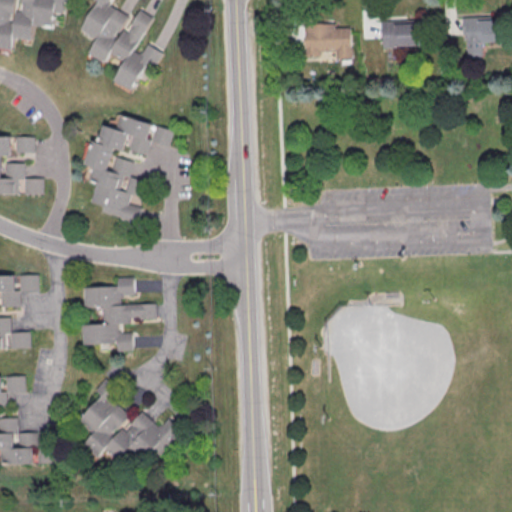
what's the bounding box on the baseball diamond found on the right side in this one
[326,305,512,512]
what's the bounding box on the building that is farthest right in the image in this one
[458,12,501,60]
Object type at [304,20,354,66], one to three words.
house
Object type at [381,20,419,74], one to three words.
house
